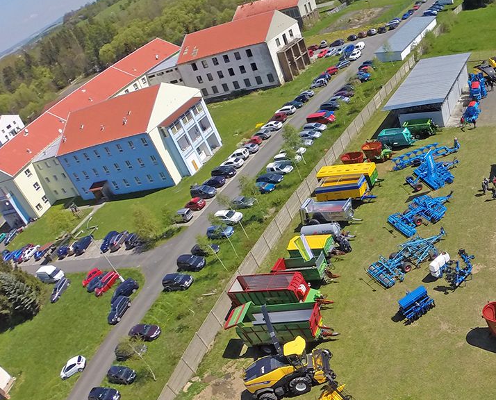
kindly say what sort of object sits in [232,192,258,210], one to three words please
car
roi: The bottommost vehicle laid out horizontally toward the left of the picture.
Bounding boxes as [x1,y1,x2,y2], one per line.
[86,383,123,400]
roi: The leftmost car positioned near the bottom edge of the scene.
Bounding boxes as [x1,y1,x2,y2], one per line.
[60,351,89,383]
